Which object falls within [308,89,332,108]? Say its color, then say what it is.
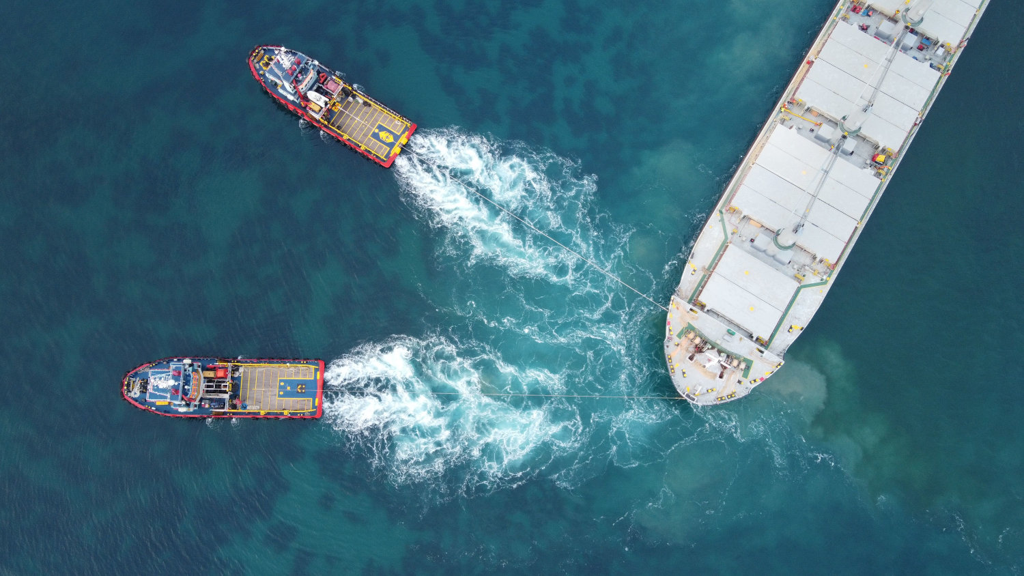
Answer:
white boat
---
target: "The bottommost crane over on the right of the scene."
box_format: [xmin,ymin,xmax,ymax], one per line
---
[764,133,848,259]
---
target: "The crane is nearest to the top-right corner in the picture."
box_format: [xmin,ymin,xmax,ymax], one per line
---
[887,0,935,47]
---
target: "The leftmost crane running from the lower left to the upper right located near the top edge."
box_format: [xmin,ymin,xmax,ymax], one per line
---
[827,25,910,150]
